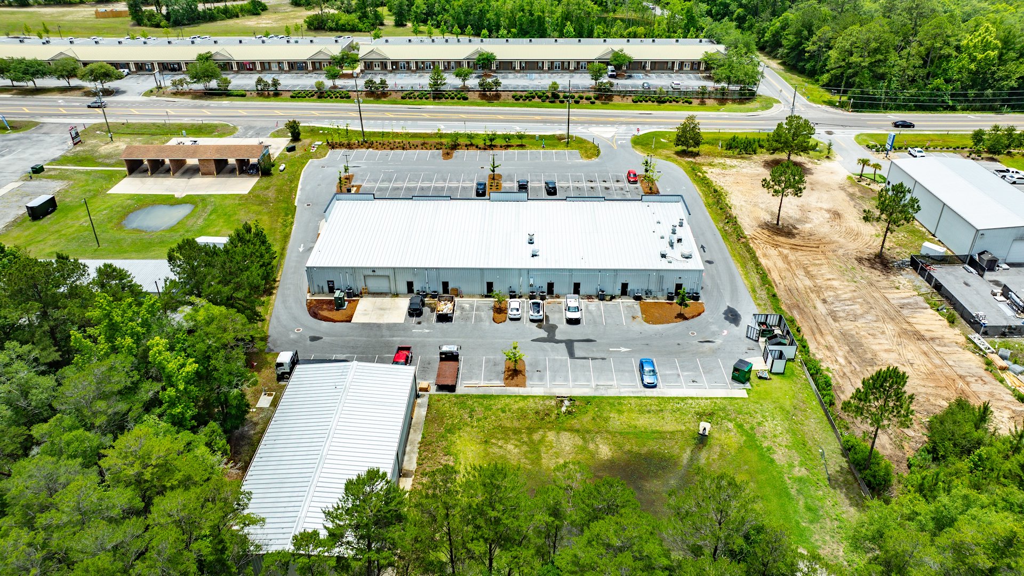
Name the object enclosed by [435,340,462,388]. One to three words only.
truck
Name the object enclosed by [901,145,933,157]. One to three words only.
vehicle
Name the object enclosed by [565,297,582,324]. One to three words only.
vehicle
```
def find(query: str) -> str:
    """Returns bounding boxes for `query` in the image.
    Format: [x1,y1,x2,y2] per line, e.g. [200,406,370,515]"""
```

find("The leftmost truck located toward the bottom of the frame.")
[275,350,317,380]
